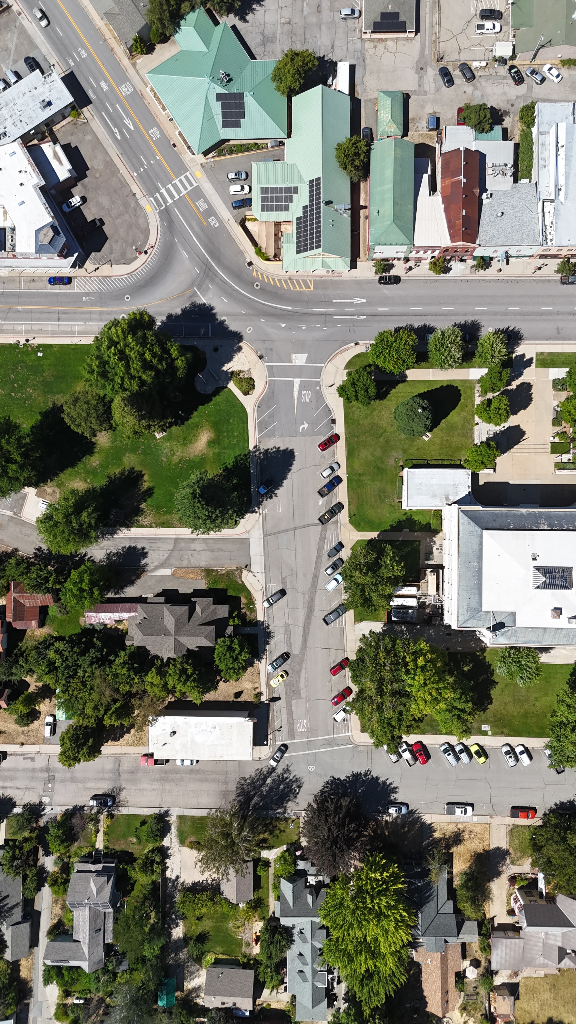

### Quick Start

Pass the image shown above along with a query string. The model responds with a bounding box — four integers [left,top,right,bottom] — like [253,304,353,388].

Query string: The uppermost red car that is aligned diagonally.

[318,433,340,452]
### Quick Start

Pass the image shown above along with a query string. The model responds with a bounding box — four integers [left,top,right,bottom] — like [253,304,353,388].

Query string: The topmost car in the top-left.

[32,6,49,29]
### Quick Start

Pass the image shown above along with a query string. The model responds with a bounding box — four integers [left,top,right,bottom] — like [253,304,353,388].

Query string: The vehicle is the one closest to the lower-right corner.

[509,807,536,819]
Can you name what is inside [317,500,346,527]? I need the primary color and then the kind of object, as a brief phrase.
black truck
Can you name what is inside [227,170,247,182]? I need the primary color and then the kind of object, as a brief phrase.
gray vehicle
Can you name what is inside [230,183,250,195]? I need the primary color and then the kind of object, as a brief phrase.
white vehicle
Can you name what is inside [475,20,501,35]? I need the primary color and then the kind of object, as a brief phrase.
white vehicle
